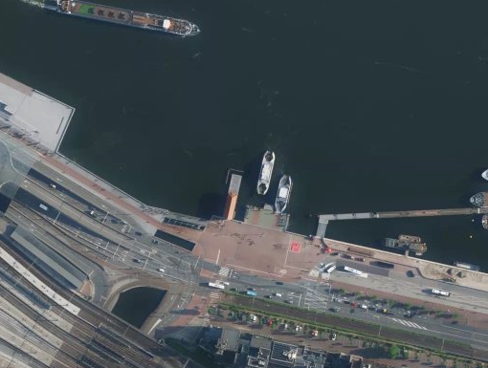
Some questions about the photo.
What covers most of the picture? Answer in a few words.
water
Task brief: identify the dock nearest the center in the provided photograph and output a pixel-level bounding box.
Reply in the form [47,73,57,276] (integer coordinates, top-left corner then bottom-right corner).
[226,168,244,220]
